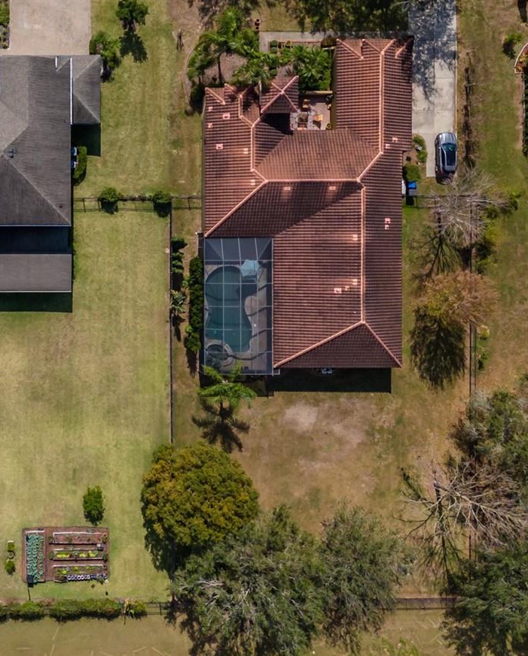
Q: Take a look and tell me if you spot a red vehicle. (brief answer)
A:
No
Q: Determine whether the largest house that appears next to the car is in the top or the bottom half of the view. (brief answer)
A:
top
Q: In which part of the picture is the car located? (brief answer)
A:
top right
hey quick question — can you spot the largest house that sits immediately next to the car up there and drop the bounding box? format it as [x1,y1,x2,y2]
[203,33,414,368]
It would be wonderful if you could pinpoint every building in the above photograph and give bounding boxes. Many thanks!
[0,51,100,225]
[203,33,414,368]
